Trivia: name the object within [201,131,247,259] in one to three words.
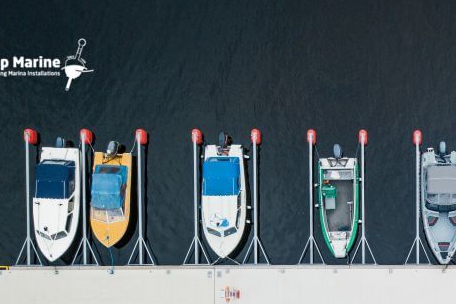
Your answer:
boat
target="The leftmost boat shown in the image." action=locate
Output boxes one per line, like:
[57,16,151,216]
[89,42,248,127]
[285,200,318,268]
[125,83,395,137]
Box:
[33,137,82,263]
